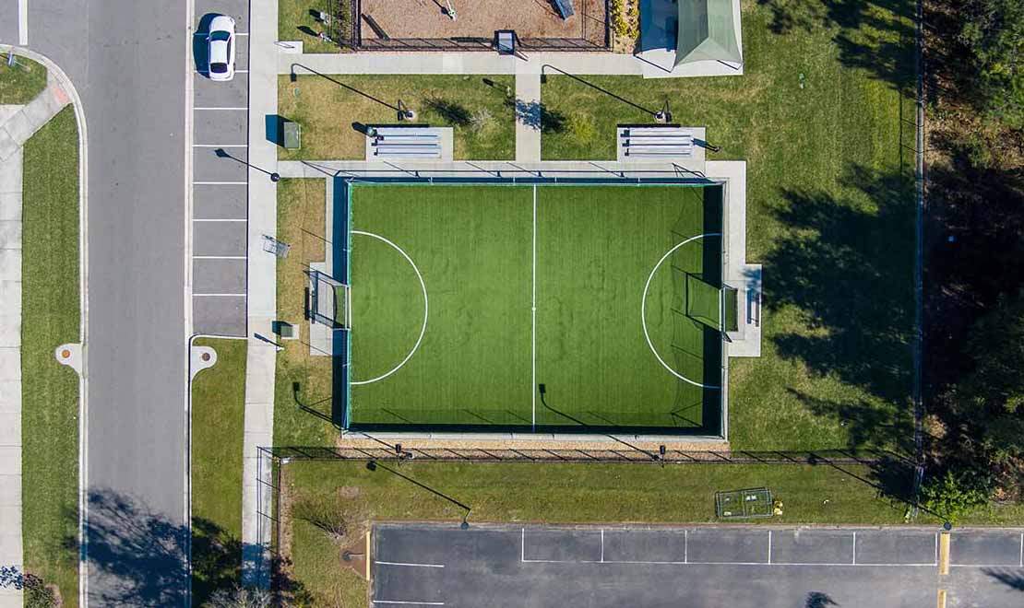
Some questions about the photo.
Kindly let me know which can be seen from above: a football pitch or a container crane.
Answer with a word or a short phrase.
football pitch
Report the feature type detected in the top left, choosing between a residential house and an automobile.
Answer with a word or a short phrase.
automobile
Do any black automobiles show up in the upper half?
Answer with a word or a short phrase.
No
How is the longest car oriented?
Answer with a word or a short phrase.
up and down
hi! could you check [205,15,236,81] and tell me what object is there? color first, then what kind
white car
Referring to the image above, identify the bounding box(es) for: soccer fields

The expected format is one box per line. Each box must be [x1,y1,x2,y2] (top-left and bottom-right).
[336,184,737,432]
